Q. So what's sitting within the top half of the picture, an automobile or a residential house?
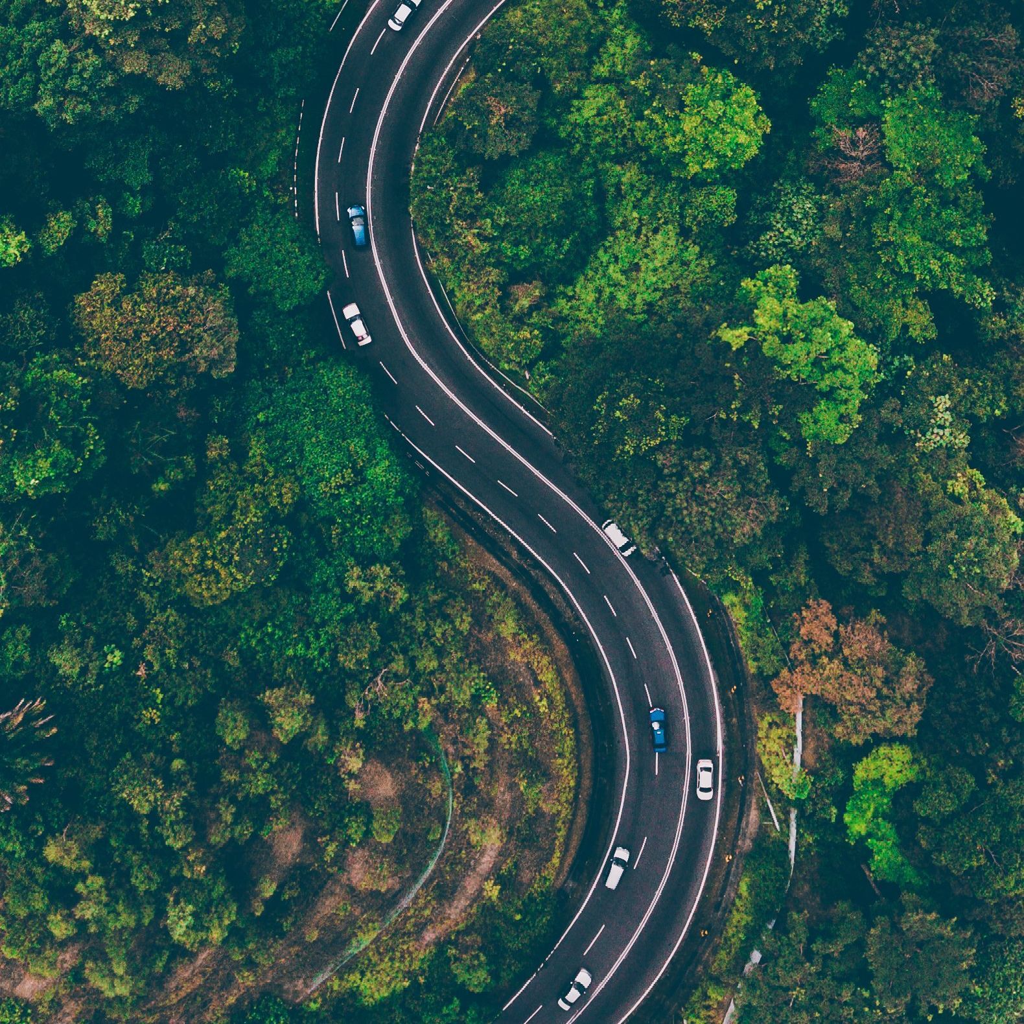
automobile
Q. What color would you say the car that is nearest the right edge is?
white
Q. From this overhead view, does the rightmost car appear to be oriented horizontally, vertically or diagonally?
vertically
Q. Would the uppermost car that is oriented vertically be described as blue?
Yes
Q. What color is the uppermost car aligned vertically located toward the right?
blue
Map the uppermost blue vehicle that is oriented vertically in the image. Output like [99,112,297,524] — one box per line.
[347,205,368,248]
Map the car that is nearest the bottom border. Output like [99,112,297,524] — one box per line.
[558,969,590,1013]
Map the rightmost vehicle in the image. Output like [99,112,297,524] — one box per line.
[695,759,715,800]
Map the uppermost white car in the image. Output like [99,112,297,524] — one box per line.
[384,0,418,35]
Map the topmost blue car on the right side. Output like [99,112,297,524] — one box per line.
[648,709,668,752]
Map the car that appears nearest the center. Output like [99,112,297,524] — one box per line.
[602,520,635,557]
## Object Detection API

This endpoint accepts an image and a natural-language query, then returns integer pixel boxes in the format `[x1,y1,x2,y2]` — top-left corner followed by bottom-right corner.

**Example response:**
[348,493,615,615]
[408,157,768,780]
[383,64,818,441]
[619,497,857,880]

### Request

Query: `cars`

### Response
[695,759,715,800]
[602,520,635,557]
[648,709,668,752]
[343,303,373,346]
[558,969,590,1013]
[604,848,629,891]
[347,205,368,248]
[384,0,418,35]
